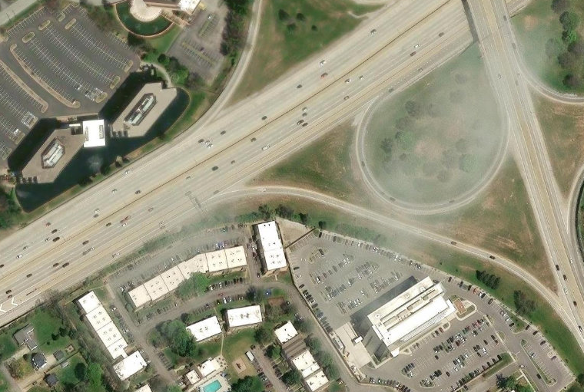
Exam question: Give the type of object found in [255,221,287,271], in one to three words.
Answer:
building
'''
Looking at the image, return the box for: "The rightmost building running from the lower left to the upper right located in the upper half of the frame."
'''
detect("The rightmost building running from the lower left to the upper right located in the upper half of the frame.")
[106,83,176,141]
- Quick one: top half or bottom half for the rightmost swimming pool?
bottom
